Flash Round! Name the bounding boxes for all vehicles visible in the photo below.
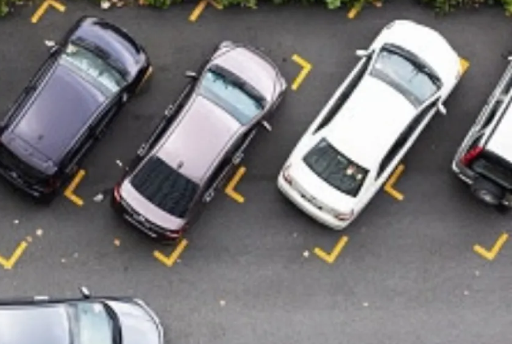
[0,11,147,207]
[113,38,287,248]
[0,286,167,344]
[278,14,459,234]
[451,66,512,208]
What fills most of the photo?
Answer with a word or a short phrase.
paved ground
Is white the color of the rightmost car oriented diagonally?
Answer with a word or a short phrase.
Yes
